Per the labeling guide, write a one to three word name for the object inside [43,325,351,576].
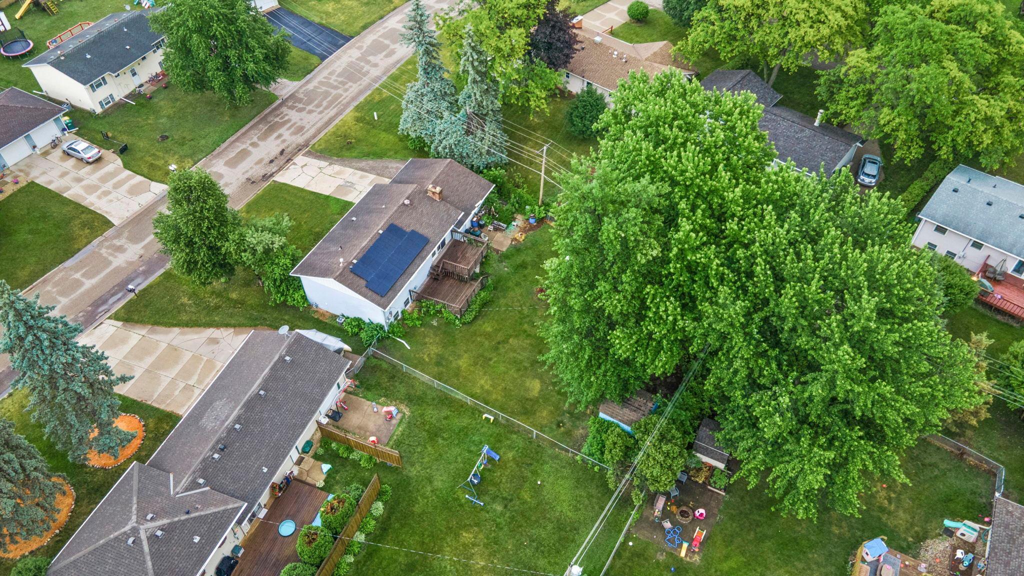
house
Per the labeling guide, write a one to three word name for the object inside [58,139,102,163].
car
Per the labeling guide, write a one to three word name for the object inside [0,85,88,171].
building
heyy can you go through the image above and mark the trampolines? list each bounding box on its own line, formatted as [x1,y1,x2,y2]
[0,28,35,61]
